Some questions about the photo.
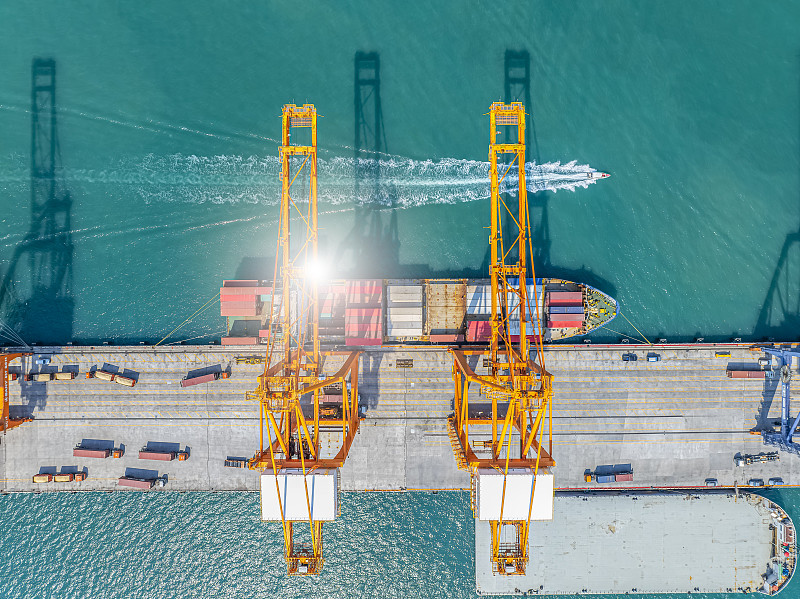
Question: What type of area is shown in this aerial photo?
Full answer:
The picture captures a port.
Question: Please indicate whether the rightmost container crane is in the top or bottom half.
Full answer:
You can find the rightmost container crane in the bottom half.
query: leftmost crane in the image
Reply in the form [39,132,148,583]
[0,351,38,433]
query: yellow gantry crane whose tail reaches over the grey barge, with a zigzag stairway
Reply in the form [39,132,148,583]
[438,94,558,572]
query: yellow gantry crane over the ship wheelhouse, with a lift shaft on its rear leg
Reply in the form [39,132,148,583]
[247,95,370,574]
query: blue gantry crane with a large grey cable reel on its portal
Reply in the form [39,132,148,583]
[749,347,800,456]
